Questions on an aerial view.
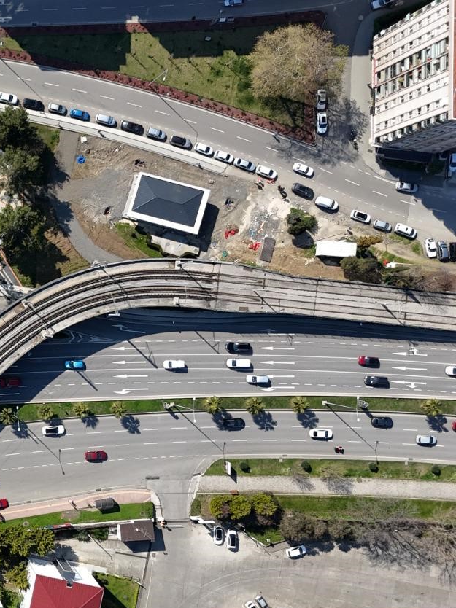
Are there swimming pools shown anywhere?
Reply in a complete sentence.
No, the photo shows no swimming pool.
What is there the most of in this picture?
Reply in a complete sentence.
For the most part, this view shows paved ground.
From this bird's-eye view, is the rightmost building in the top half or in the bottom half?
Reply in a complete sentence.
It is in the top half that the rightmost building appears.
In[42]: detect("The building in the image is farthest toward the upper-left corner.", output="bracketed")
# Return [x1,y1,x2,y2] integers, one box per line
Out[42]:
[120,172,210,256]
